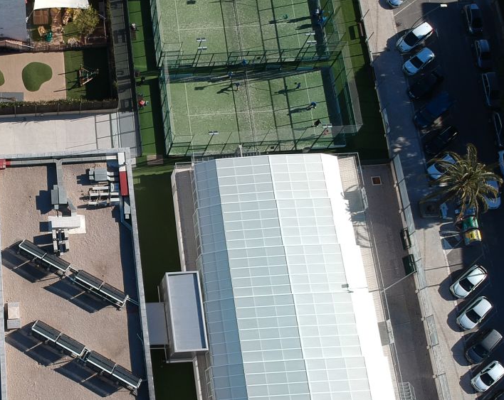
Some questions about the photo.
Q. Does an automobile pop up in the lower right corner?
Yes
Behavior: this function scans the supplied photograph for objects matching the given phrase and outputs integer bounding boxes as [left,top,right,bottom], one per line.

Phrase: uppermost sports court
[150,0,348,69]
